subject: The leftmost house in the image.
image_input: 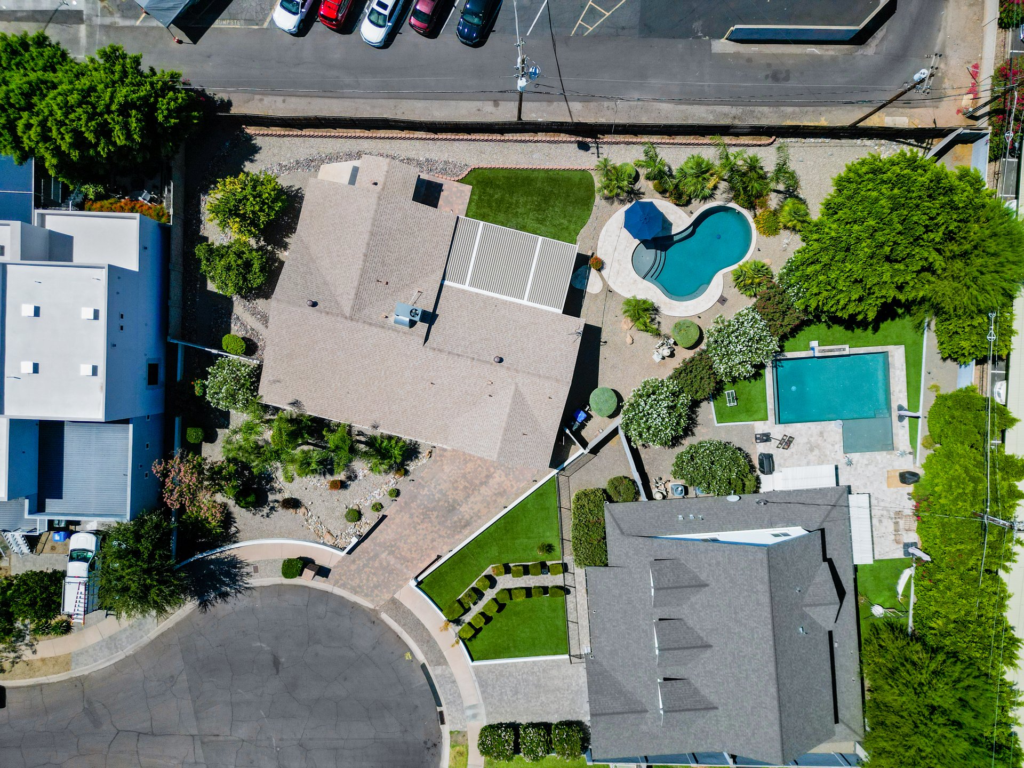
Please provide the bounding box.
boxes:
[0,210,168,535]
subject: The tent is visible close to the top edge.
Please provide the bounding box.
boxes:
[136,0,194,41]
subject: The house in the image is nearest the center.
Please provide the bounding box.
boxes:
[258,155,585,469]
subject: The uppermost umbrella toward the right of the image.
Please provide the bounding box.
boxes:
[624,200,664,241]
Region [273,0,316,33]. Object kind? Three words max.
car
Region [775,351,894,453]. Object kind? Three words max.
swimming pool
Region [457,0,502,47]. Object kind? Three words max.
car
